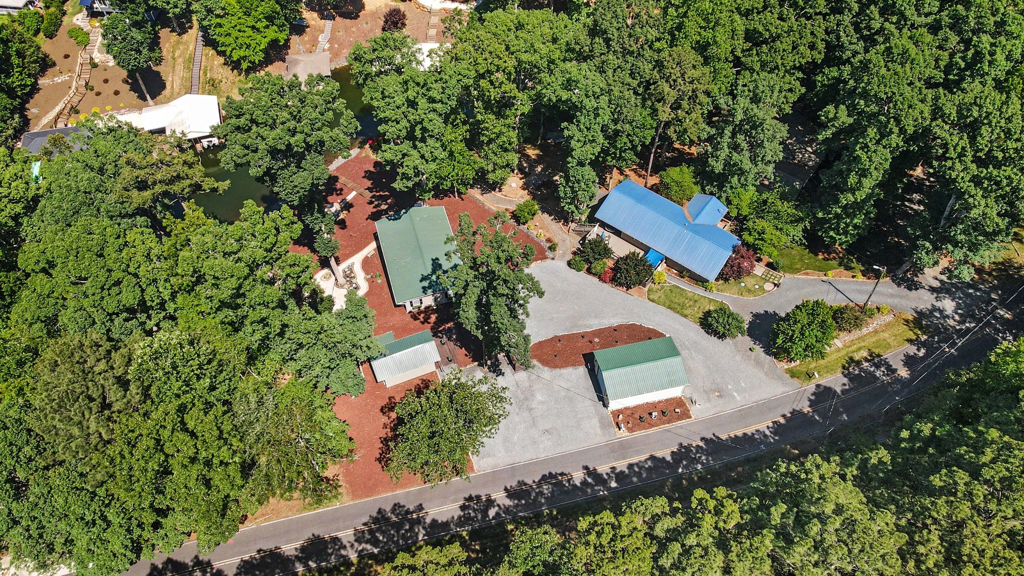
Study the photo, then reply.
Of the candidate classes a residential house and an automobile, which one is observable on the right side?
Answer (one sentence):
You can see a residential house on the right side.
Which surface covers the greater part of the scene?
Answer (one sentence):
The scene is dominated by trees.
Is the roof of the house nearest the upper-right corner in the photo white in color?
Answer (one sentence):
No, the roof of the house nearest the upper-right corner is actually blue.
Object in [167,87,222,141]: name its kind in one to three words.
building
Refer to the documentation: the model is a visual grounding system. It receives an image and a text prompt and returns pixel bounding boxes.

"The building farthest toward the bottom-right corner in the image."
[595,337,689,408]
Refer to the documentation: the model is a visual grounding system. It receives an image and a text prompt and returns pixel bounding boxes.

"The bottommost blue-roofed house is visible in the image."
[595,179,741,286]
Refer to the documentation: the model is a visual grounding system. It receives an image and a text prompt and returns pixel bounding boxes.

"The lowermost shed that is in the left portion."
[370,330,441,388]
